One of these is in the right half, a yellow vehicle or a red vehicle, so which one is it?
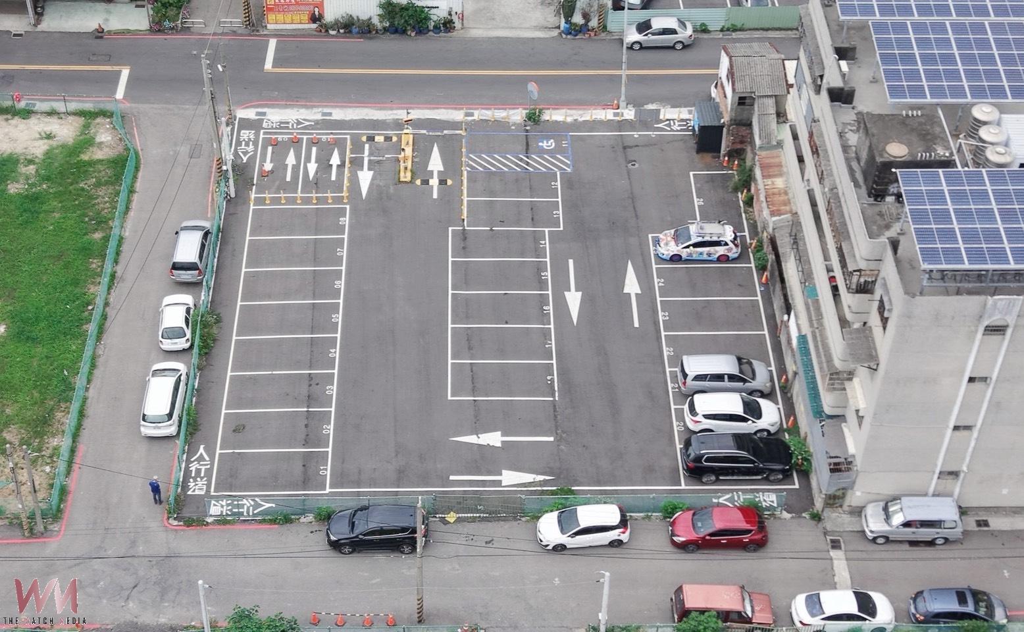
red vehicle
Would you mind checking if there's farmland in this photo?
No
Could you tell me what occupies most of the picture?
paved ground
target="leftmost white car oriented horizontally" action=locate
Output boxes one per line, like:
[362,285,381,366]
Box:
[534,504,630,553]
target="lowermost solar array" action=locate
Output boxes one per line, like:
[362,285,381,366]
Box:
[899,171,1024,295]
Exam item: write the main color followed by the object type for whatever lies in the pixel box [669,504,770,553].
red car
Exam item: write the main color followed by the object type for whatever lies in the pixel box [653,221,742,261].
white car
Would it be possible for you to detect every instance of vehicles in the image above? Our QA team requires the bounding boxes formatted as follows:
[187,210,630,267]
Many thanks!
[326,505,429,557]
[155,290,199,352]
[676,352,771,398]
[170,219,213,283]
[683,429,793,483]
[534,504,630,553]
[622,16,696,50]
[653,221,742,261]
[137,361,188,438]
[906,586,1015,632]
[789,587,899,632]
[860,495,967,546]
[670,583,776,632]
[685,390,781,438]
[669,504,770,553]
